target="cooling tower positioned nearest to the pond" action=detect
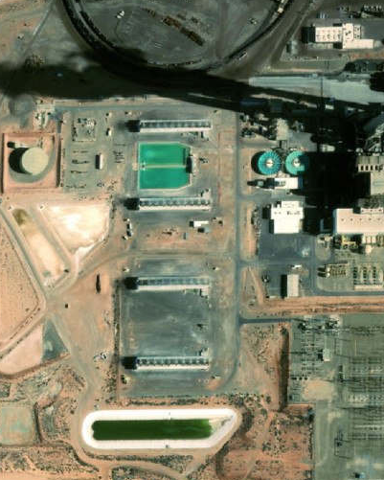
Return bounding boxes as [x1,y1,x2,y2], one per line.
[134,357,210,370]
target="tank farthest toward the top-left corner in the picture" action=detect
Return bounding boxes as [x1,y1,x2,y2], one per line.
[19,147,48,176]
